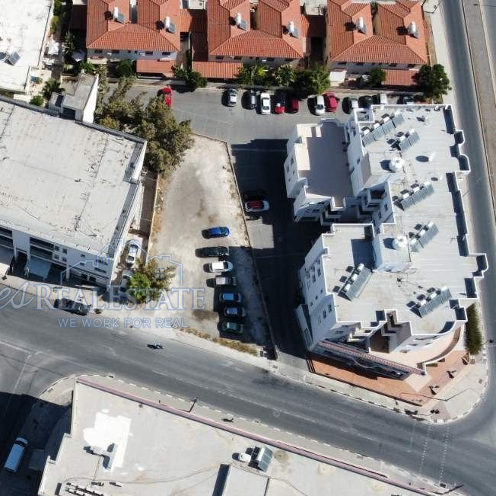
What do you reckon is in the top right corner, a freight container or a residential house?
residential house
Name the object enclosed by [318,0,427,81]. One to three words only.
house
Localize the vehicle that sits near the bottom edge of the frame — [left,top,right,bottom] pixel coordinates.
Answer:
[0,435,30,476]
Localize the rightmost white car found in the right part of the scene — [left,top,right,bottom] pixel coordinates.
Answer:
[376,88,390,106]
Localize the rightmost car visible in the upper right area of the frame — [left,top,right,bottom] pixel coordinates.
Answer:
[400,88,414,106]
